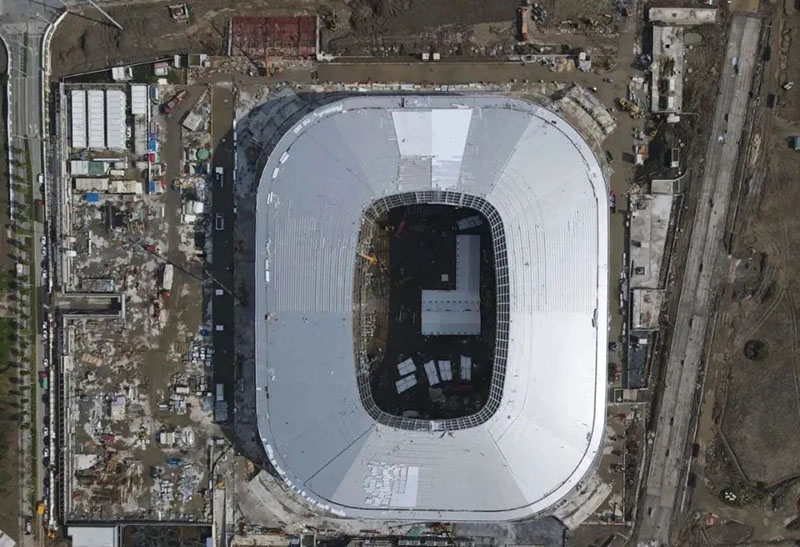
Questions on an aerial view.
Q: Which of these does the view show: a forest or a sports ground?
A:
sports ground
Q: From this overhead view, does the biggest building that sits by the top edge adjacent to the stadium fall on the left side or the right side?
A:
right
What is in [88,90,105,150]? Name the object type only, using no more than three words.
building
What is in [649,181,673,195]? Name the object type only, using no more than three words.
building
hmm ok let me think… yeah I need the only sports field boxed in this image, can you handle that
[388,204,497,413]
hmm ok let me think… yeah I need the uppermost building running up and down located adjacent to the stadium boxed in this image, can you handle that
[648,25,683,115]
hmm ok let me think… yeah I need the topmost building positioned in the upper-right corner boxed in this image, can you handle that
[646,8,716,26]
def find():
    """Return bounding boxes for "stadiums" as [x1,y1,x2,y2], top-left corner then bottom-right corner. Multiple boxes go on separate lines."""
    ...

[235,80,623,547]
